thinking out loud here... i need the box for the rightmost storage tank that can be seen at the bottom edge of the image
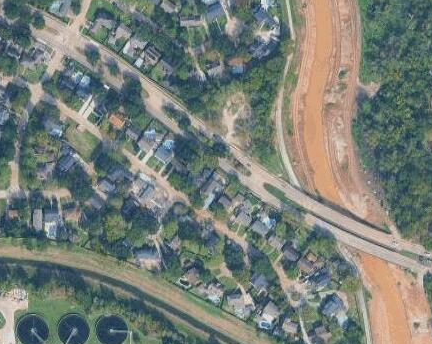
[96,314,129,344]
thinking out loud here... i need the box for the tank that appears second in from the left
[58,314,90,344]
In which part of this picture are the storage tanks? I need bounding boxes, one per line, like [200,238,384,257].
[96,314,129,344]
[58,314,90,344]
[17,314,49,344]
